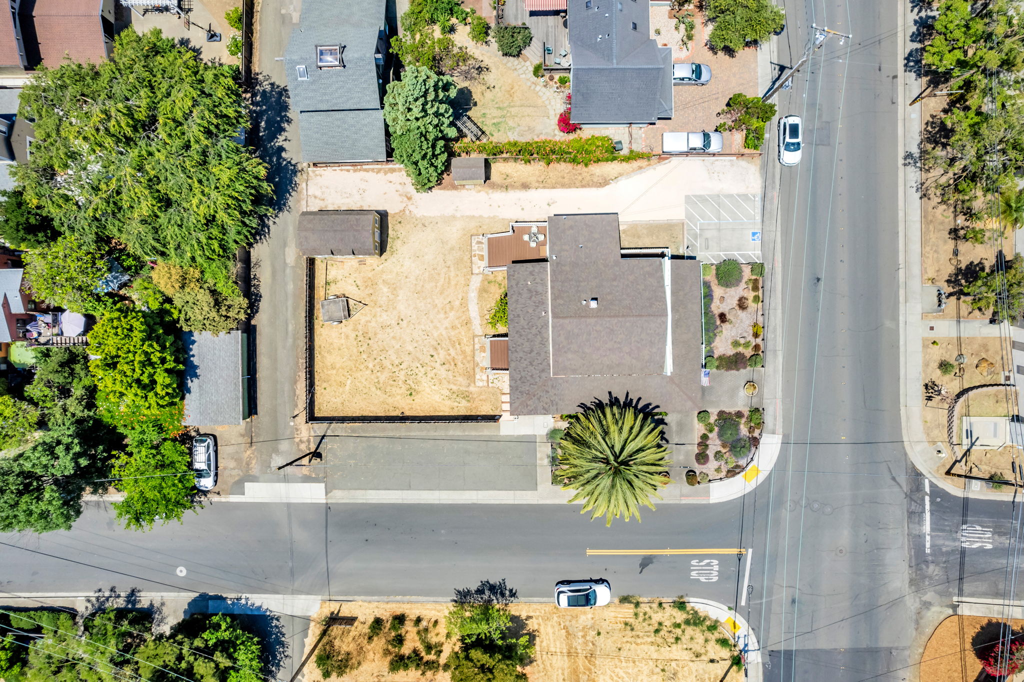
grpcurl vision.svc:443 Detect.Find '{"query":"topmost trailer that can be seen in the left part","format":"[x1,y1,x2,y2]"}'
[320,293,366,324]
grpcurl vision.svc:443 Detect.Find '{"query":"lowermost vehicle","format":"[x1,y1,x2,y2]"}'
[555,579,611,608]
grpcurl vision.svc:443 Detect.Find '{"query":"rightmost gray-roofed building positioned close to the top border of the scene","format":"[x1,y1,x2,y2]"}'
[567,0,673,129]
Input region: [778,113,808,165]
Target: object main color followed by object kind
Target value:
white car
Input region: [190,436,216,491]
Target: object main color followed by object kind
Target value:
white car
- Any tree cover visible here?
Yes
